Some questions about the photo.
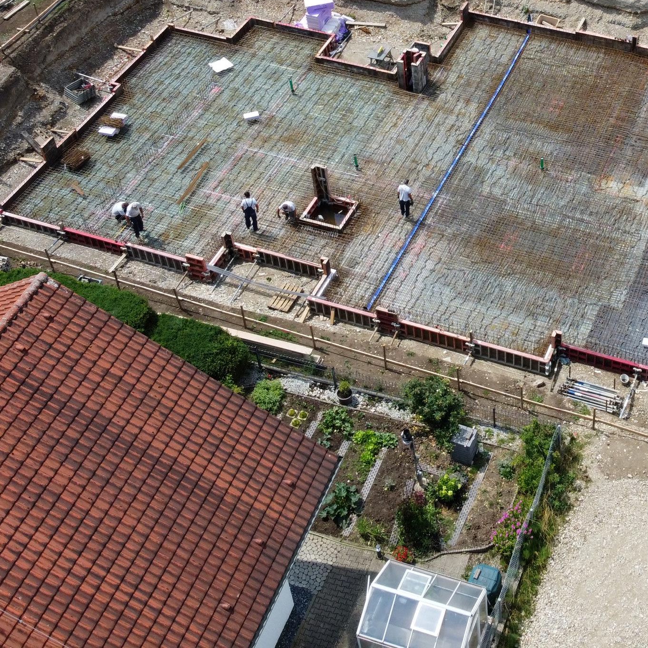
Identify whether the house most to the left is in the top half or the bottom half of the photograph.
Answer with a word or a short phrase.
bottom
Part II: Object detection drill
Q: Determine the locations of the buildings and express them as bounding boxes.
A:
[356,559,489,648]
[0,273,349,648]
